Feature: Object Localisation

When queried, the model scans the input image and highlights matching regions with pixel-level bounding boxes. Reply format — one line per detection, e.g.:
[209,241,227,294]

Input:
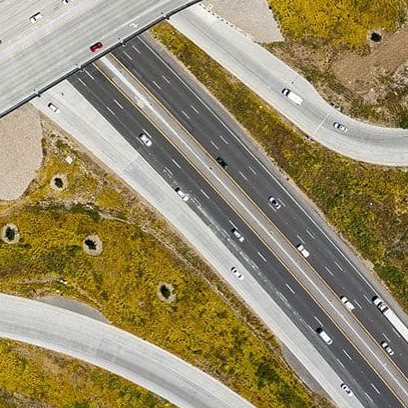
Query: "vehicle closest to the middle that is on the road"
[175,188,190,202]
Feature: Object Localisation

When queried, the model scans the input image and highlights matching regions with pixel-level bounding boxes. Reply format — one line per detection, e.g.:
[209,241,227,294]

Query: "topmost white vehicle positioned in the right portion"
[282,88,303,106]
